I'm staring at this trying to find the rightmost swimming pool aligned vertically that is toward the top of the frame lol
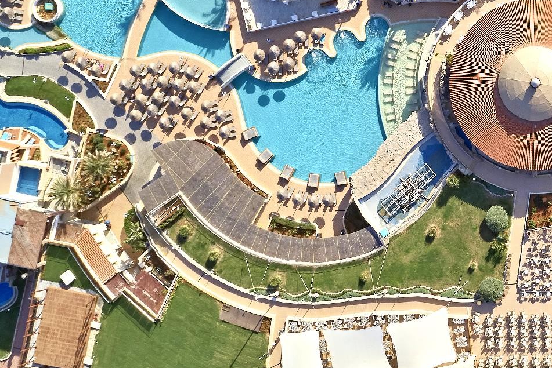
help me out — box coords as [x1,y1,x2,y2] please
[378,18,440,138]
